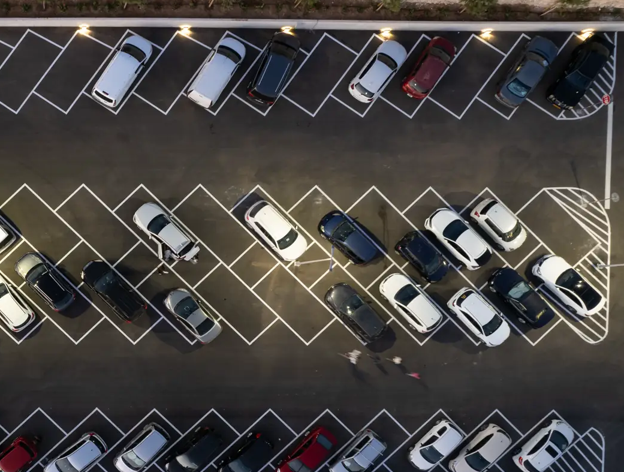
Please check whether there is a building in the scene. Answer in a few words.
No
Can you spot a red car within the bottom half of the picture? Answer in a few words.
Yes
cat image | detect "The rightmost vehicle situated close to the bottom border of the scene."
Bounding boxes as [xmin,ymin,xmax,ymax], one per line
[510,417,575,472]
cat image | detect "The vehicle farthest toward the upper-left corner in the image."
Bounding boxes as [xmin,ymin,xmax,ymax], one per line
[92,36,148,111]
